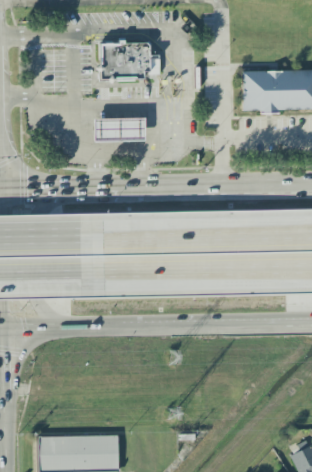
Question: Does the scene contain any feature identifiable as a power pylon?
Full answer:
Yes, there's a power pylon down there.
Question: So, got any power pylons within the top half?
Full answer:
No, the scene shows no power pylon within the top half.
